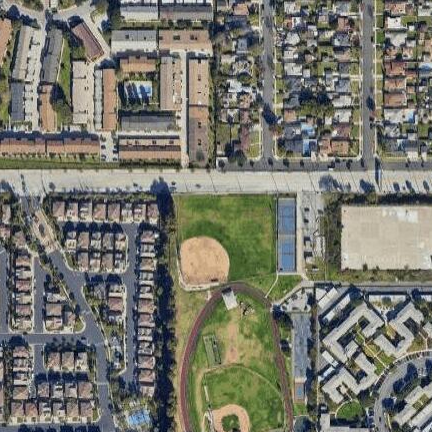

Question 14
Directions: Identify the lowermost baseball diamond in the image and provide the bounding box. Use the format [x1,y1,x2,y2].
[198,364,284,432]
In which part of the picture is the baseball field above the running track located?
center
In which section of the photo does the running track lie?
bottom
